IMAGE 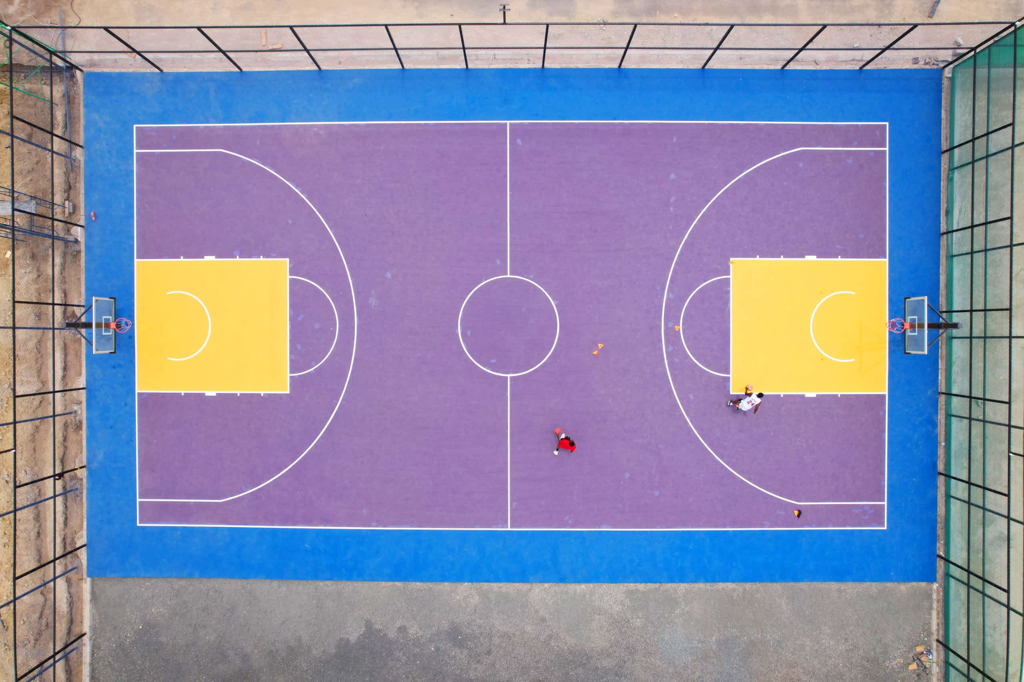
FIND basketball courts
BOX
[83,67,943,583]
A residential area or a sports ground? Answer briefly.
sports ground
